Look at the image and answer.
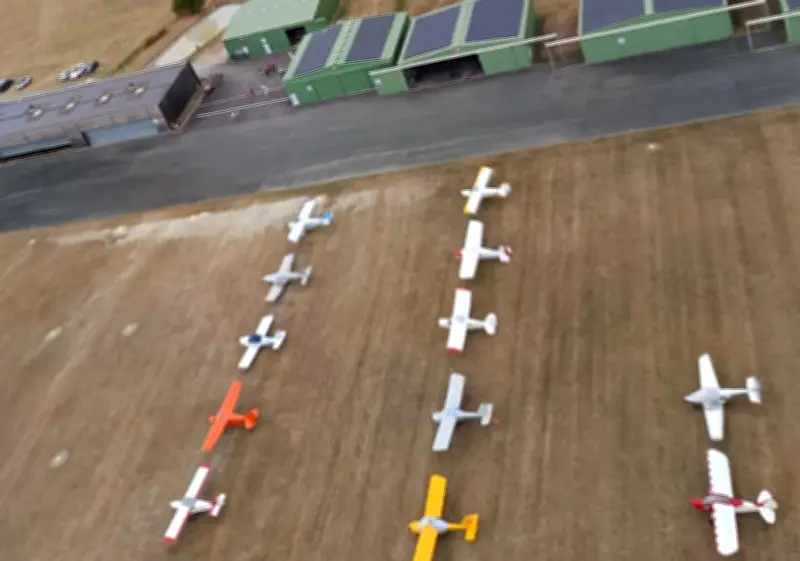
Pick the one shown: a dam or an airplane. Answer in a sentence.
It is an airplane that can be seen here.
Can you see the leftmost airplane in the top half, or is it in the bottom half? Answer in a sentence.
The leftmost airplane is in the bottom half of the image.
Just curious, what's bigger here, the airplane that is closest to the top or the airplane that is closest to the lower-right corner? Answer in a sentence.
The larger object is the airplane that is closest to the lower-right corner, with the airplane that is closest to the top being the smaller of the pair.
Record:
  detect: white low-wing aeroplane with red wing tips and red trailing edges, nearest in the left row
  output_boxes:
[166,466,230,548]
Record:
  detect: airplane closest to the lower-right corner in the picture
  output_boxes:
[687,454,780,558]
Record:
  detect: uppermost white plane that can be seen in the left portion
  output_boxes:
[286,195,334,238]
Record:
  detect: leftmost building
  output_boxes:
[0,59,209,163]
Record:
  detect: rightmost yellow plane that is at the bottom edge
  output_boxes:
[409,474,482,561]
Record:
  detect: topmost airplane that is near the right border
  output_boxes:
[683,358,763,442]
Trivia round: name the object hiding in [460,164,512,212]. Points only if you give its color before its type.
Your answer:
white airplane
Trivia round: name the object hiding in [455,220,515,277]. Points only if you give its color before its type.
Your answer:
white airplane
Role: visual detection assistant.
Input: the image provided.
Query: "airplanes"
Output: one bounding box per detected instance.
[200,379,262,452]
[683,358,763,442]
[437,286,502,352]
[262,255,316,301]
[455,220,515,277]
[286,195,334,238]
[687,454,780,558]
[236,316,288,369]
[430,374,495,451]
[460,164,512,212]
[409,474,482,561]
[166,466,230,548]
